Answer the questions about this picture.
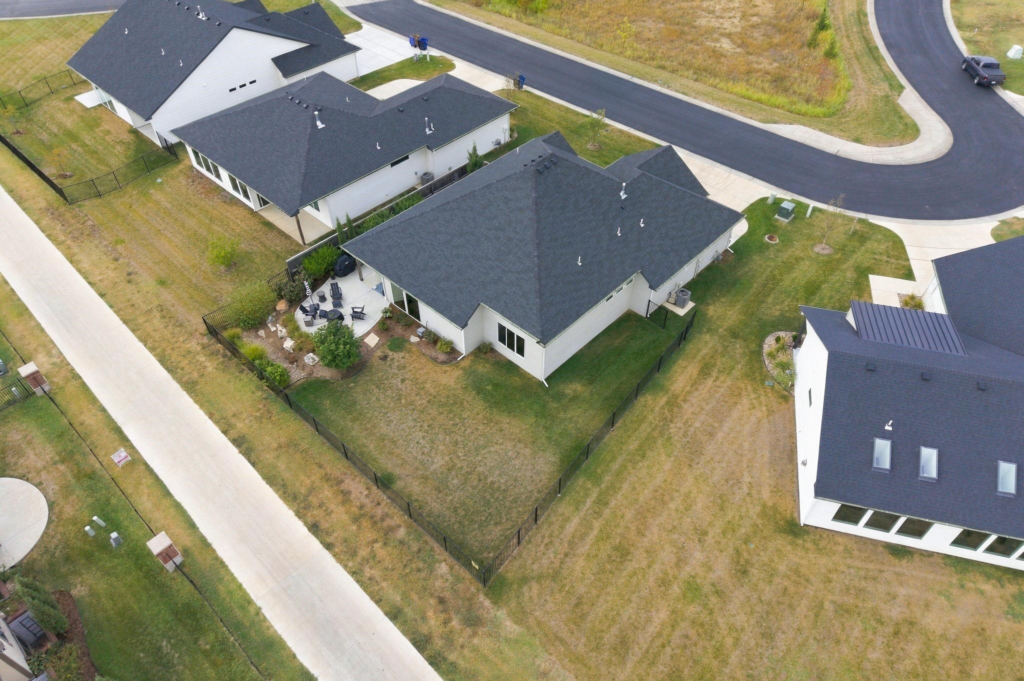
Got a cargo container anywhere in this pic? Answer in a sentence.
No, no cargo container is visible in the scene.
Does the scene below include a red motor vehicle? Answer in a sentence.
No, no red motor vehicle can be seen from above.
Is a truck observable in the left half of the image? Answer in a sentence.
No, in the left half of the image there is no truck.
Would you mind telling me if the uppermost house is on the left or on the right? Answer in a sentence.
You can find the uppermost house on the left side of the picture.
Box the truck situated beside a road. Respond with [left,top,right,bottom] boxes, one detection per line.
[962,55,1006,85]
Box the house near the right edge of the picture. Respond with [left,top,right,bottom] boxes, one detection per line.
[794,245,1024,567]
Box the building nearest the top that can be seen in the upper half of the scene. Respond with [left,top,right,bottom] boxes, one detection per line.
[59,0,359,148]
